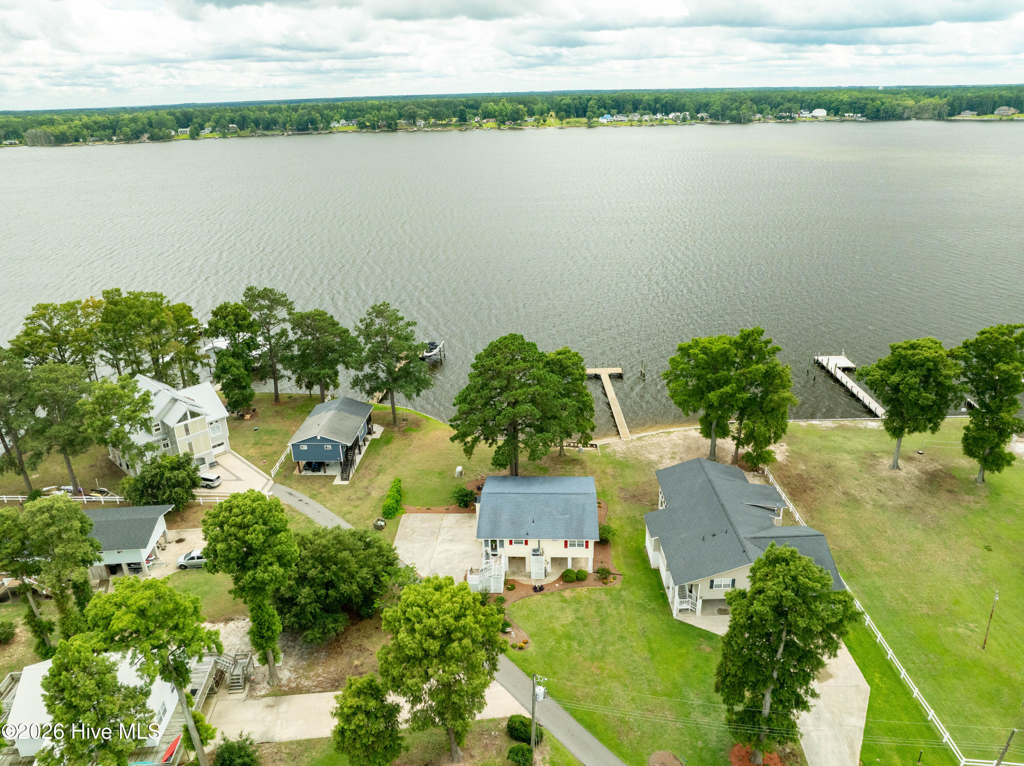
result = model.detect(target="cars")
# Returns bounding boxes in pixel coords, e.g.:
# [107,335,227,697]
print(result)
[174,548,219,569]
[194,472,220,489]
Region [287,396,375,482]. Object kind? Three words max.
house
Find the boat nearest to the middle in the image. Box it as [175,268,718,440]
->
[420,340,442,356]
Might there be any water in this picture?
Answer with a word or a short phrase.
Yes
